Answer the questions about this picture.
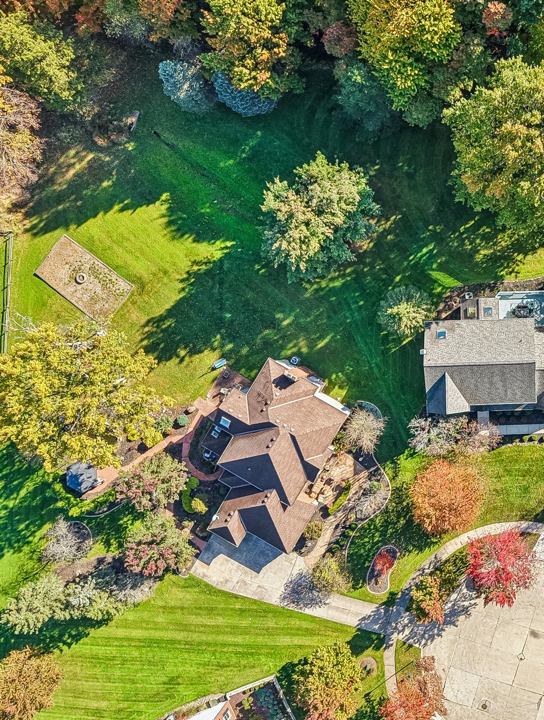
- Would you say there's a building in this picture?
Yes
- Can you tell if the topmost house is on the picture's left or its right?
right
